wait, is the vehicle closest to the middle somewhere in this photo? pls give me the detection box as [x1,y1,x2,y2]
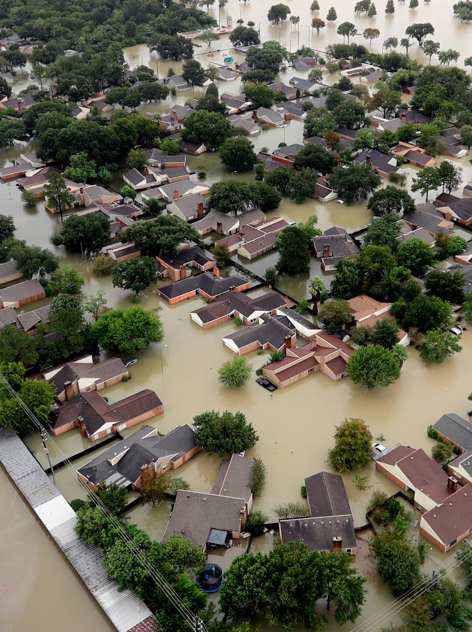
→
[250,378,277,395]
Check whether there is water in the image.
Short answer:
Yes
